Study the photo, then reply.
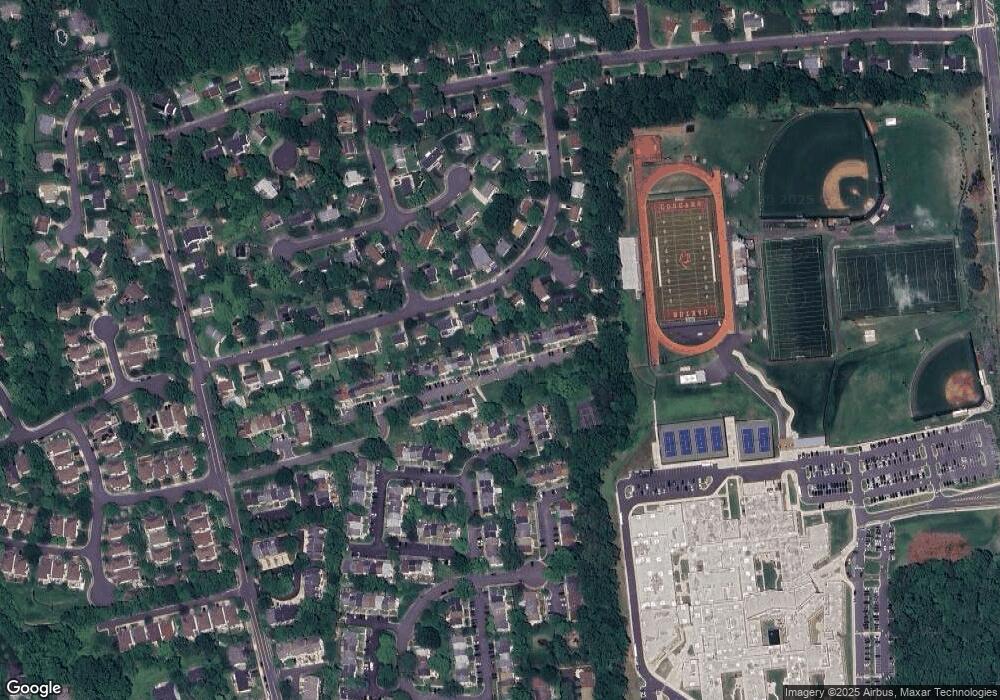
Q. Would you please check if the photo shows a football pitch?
Yes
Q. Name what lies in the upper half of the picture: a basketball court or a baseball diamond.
baseball diamond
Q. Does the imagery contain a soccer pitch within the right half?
Yes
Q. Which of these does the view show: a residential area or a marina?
residential area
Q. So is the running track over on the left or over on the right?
right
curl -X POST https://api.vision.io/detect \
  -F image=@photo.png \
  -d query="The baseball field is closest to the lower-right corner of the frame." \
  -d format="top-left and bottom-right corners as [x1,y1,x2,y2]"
[911,332,983,417]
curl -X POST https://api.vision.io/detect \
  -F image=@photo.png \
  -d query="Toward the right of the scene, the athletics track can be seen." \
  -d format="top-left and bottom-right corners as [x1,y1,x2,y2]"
[634,136,733,371]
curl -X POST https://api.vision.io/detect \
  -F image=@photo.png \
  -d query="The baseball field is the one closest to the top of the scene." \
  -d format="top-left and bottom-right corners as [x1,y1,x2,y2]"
[761,108,882,217]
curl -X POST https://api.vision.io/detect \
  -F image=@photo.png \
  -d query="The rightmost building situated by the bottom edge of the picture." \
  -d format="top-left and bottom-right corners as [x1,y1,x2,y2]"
[632,491,845,700]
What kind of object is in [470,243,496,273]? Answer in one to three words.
house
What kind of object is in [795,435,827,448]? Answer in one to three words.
building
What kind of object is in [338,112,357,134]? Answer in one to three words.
house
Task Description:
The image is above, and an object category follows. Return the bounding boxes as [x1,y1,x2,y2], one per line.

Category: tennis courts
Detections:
[757,427,771,452]
[694,428,707,453]
[710,426,723,451]
[663,432,677,457]
[679,430,692,455]
[741,429,755,453]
